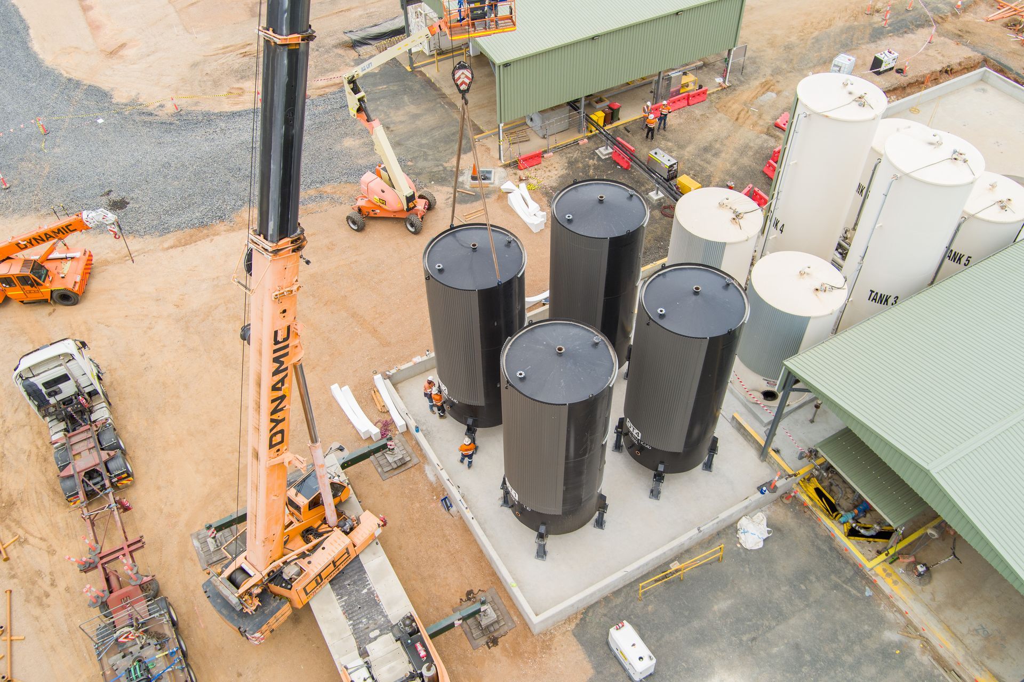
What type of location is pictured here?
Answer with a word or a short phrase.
industrial area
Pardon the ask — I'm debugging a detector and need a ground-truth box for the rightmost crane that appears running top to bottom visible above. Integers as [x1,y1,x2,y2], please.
[202,0,497,682]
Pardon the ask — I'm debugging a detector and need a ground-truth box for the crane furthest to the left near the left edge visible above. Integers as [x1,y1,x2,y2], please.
[0,209,134,311]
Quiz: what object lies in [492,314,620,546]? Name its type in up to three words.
storage tank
